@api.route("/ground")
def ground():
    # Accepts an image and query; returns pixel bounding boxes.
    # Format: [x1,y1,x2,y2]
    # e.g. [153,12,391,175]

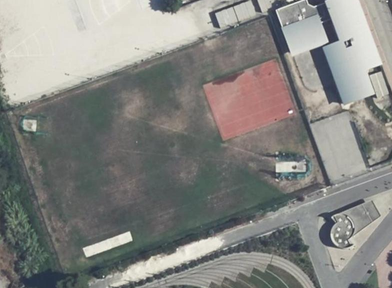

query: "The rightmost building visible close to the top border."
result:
[323,0,382,106]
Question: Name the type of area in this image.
sports ground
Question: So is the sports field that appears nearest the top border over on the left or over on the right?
left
